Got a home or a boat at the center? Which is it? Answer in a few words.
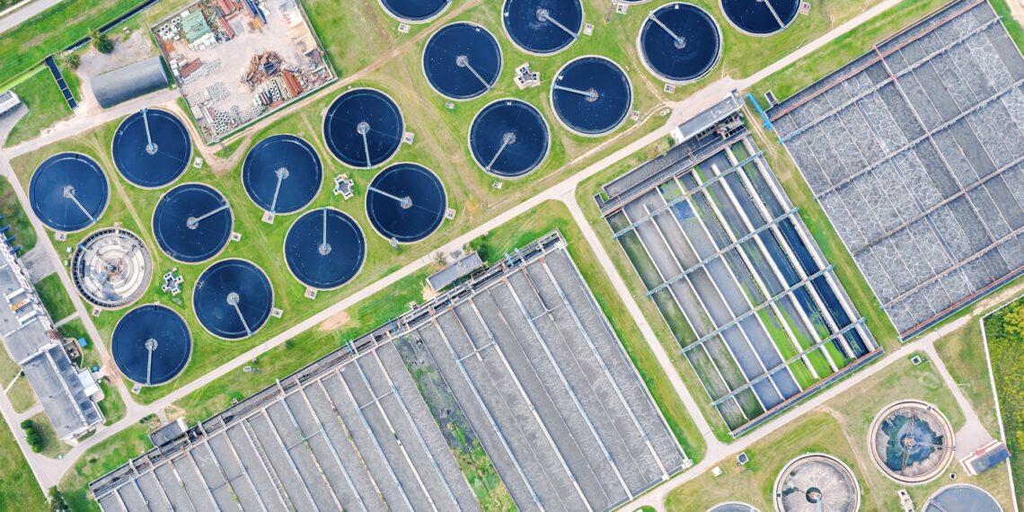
home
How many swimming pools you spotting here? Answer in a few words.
0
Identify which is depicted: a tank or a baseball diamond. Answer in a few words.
tank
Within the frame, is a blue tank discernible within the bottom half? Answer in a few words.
Yes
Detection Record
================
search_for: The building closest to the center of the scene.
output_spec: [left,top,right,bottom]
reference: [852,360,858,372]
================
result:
[428,252,483,291]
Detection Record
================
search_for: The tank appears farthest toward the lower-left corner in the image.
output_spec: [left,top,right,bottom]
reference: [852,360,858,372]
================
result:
[111,304,193,388]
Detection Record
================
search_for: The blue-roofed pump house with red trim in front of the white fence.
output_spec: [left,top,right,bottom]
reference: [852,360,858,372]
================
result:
[956,436,1011,475]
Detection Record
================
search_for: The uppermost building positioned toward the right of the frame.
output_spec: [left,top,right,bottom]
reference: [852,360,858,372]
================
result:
[668,89,745,146]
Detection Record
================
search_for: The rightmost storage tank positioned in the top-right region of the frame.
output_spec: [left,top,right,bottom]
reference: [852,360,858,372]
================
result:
[719,0,801,36]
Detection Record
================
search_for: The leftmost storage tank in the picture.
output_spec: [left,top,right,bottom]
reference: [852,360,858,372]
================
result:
[29,151,111,233]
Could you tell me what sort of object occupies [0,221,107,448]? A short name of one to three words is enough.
building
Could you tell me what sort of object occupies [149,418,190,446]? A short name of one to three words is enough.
building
